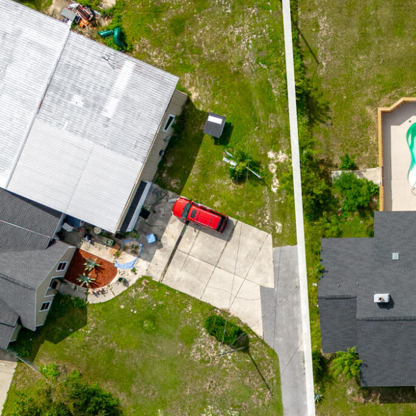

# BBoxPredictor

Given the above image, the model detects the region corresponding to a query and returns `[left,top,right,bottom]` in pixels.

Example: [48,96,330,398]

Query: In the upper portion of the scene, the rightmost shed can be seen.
[203,113,227,138]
